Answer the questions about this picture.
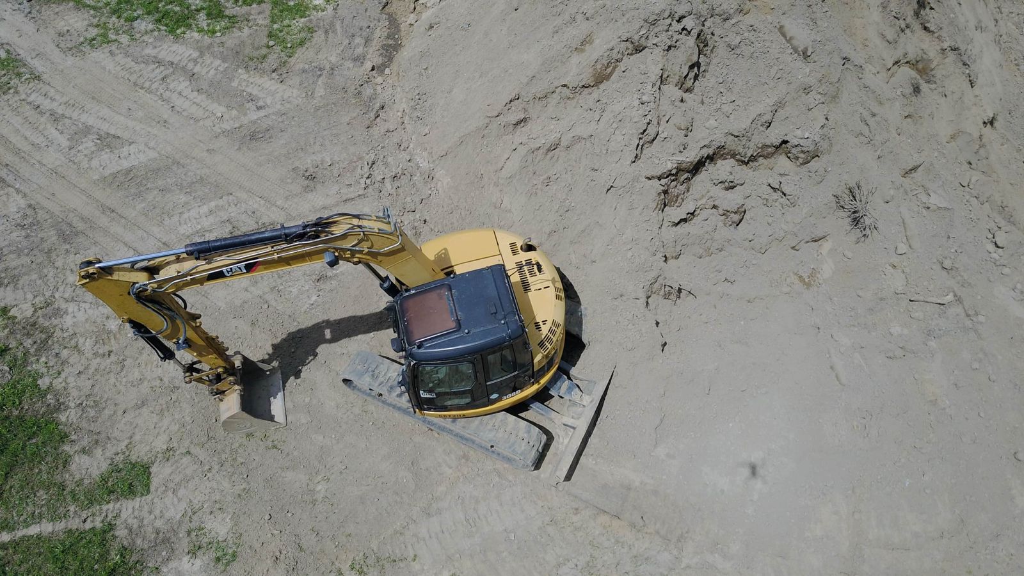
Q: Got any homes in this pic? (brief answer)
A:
No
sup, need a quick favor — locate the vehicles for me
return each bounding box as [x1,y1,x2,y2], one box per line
[69,183,621,486]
